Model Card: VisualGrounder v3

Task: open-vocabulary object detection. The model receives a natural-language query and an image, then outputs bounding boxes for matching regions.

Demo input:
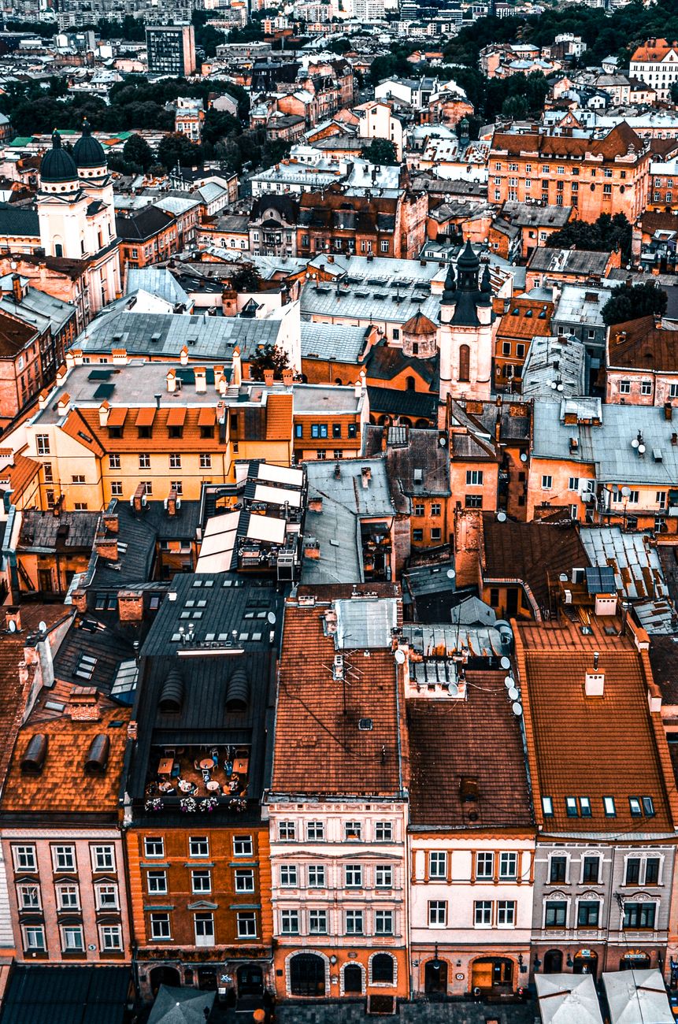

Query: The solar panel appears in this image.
[583,568,617,622]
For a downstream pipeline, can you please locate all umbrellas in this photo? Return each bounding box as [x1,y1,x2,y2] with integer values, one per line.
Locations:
[603,970,675,1024]
[535,974,603,1024]
[146,985,216,1024]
